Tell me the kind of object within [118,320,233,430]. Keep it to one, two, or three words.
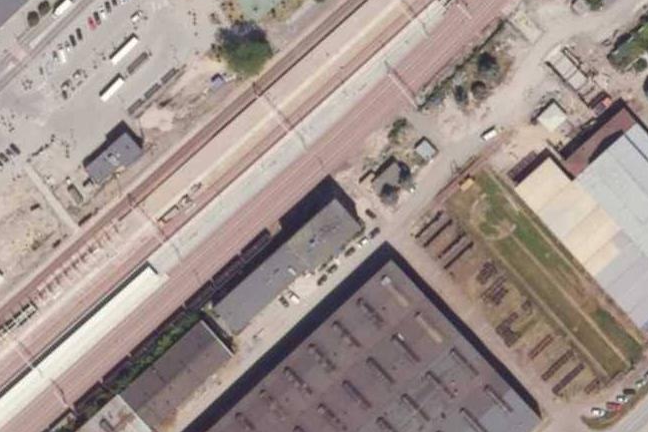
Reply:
building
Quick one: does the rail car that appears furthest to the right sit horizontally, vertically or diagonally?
diagonally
